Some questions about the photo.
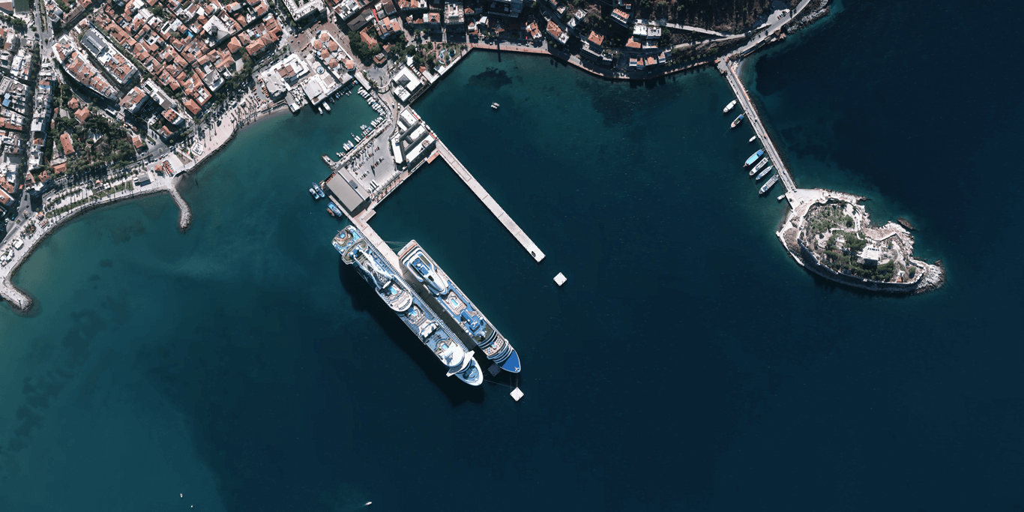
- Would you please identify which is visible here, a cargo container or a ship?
ship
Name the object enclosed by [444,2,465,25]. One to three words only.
building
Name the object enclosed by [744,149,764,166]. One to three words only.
boat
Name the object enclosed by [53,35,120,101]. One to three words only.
building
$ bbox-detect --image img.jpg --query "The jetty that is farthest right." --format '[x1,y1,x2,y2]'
[436,138,545,262]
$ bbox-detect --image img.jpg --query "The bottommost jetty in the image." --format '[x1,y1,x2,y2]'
[349,218,477,353]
